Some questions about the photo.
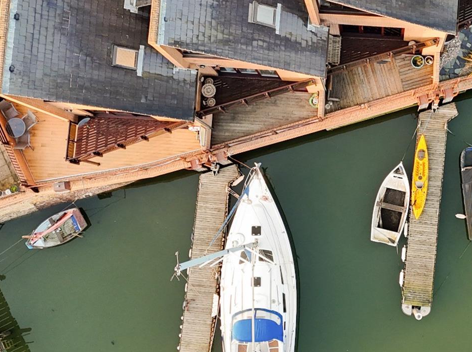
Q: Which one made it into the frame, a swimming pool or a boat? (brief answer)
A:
boat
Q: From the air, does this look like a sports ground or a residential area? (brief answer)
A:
residential area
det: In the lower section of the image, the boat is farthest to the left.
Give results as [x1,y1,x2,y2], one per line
[23,209,91,252]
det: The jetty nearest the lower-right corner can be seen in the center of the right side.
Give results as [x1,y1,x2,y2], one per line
[400,103,458,317]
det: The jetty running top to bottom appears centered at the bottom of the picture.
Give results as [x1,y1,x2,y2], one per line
[178,164,241,352]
